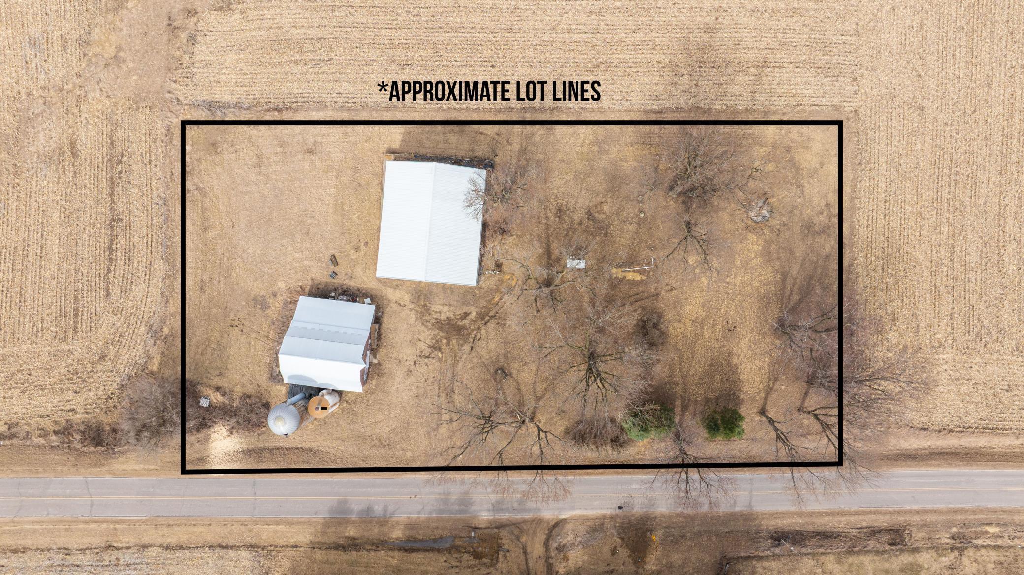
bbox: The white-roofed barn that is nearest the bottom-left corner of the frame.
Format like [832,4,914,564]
[278,296,375,392]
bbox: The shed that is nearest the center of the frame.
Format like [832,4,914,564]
[376,161,487,286]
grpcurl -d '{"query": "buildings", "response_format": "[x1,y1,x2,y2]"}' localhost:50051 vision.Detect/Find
[278,296,375,392]
[376,161,487,286]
